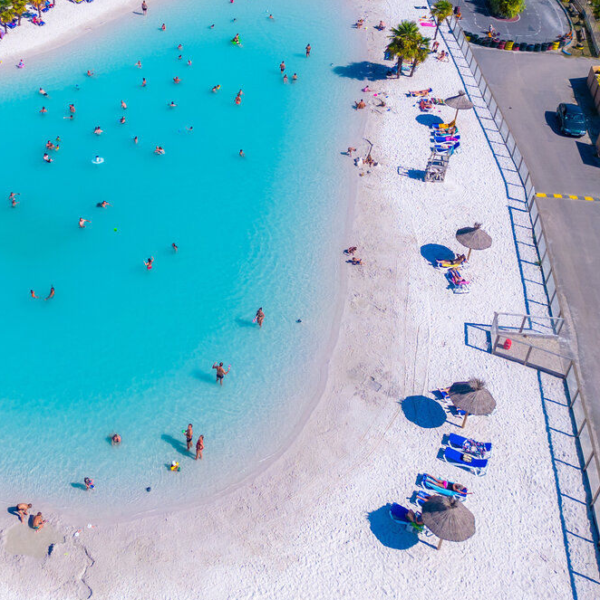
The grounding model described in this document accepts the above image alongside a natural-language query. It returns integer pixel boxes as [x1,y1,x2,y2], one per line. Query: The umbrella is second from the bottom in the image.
[443,377,498,429]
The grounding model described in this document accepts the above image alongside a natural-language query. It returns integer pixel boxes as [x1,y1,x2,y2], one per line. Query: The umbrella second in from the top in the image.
[452,218,495,251]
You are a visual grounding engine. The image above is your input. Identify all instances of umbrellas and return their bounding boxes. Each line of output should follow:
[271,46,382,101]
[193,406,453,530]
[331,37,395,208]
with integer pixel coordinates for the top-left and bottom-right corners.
[445,87,478,115]
[443,377,498,429]
[452,218,495,251]
[419,496,481,552]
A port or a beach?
beach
